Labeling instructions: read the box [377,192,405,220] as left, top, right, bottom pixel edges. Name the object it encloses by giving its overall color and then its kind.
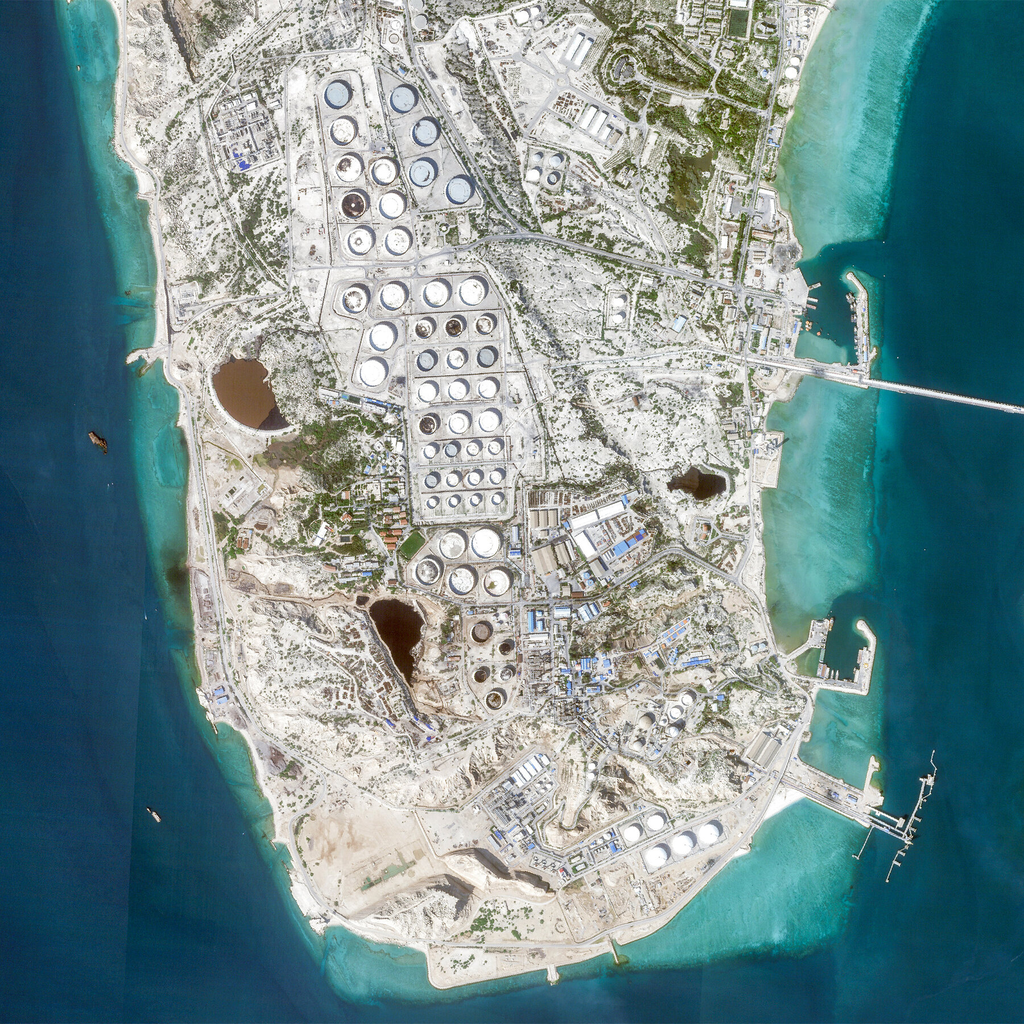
white storage tank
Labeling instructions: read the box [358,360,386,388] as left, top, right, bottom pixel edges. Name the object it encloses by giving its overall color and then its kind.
white storage tank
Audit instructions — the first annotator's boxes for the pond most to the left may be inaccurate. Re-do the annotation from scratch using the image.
[212,359,290,431]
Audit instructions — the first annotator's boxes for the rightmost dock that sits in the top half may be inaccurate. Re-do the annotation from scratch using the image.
[862,377,1024,414]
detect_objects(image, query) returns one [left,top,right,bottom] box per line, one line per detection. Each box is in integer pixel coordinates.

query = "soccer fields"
[730,8,750,37]
[397,528,427,561]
